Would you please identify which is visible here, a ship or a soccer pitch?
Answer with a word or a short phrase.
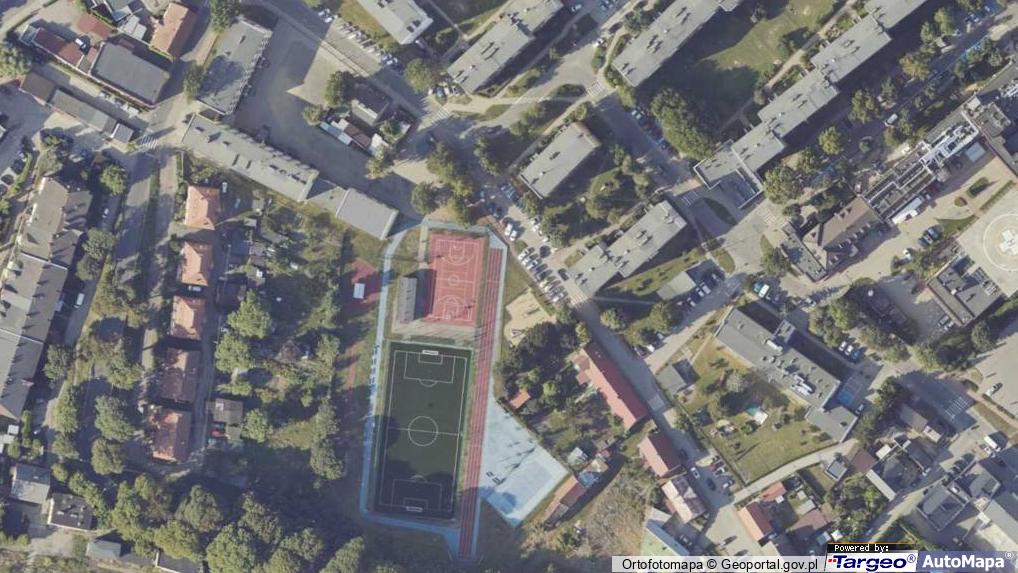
soccer pitch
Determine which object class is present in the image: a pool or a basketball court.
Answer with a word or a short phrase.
basketball court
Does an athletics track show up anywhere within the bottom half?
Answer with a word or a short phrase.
Yes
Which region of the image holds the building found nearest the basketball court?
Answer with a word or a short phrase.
center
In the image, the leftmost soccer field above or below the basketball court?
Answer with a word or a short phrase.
below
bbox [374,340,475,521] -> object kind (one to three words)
soccer field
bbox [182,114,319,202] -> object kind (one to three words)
building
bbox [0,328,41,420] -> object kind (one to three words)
house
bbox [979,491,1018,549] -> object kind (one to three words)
shed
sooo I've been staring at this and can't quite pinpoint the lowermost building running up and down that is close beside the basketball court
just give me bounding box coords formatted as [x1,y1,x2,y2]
[398,277,418,321]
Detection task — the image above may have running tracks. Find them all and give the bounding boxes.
[458,248,502,557]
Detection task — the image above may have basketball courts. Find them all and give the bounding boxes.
[424,234,485,326]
